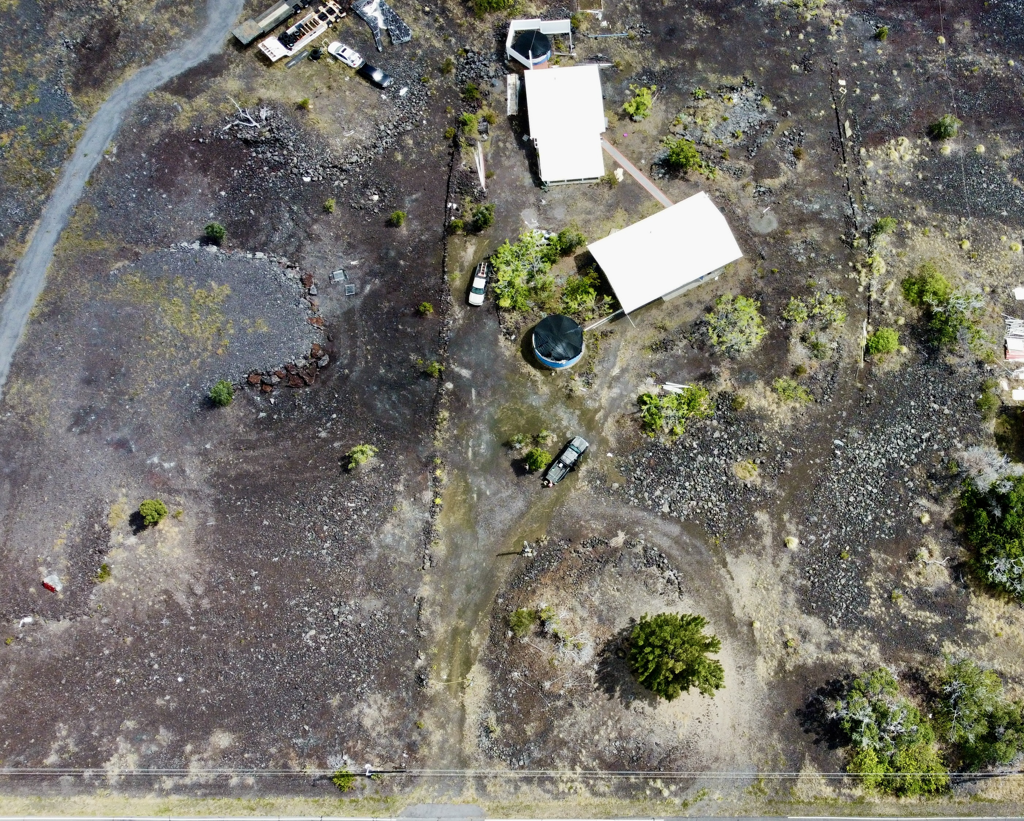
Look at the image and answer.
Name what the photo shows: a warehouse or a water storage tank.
water storage tank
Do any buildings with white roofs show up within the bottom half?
No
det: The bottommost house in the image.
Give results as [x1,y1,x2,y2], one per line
[587,191,743,319]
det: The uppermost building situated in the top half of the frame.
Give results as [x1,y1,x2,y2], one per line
[524,65,608,194]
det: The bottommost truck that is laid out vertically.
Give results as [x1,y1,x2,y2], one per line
[467,260,493,307]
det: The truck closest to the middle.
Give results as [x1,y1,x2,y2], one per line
[548,434,590,488]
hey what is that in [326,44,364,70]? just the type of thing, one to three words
car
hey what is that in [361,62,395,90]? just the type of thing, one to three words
car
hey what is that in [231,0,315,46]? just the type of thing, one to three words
trailer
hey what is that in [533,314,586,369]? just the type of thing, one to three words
water tank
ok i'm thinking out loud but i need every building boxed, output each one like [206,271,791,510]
[587,191,743,319]
[524,65,608,194]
